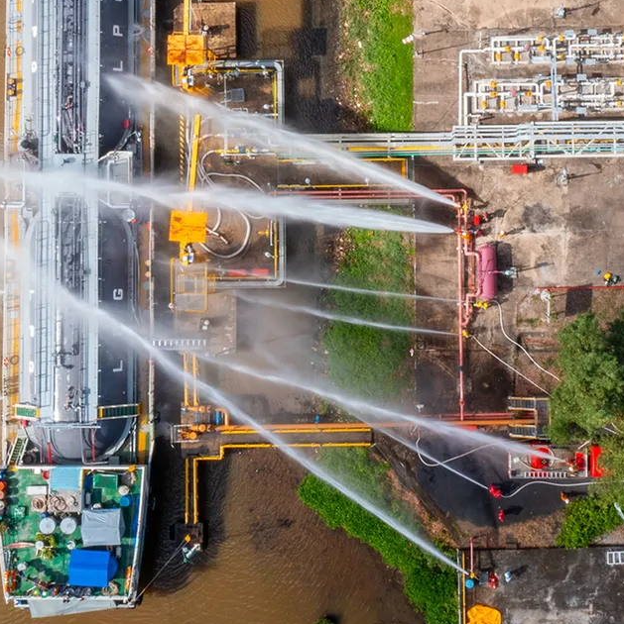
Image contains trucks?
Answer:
Yes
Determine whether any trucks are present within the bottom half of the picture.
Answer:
Yes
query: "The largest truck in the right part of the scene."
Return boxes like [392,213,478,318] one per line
[509,440,605,479]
